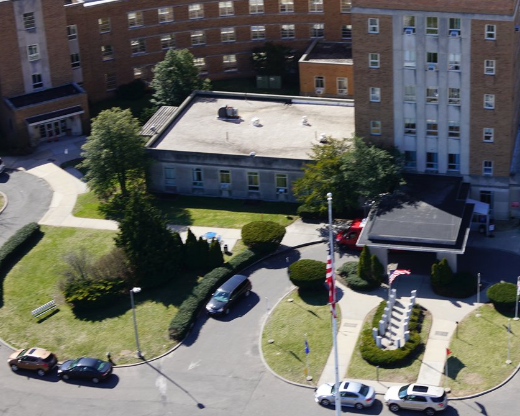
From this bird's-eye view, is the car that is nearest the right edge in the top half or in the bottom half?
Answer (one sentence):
Seen from above, the car that is nearest the right edge lies in the bottom half of the view.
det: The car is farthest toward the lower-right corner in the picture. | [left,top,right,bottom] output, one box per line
[387,380,448,415]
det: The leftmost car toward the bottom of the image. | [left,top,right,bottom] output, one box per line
[2,345,63,378]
